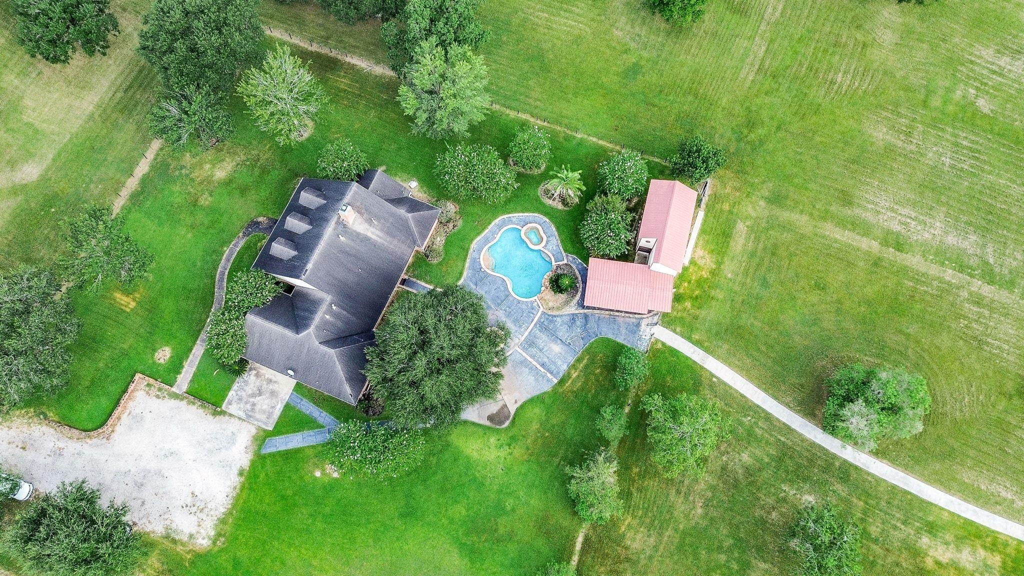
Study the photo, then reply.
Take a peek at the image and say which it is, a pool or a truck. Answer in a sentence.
The one in the frame is a pool.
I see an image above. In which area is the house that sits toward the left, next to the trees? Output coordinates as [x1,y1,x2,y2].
[238,166,442,406]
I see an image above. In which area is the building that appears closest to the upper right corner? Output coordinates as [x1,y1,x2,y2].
[630,180,697,276]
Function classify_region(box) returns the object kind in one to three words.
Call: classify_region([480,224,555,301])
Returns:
swimming pool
